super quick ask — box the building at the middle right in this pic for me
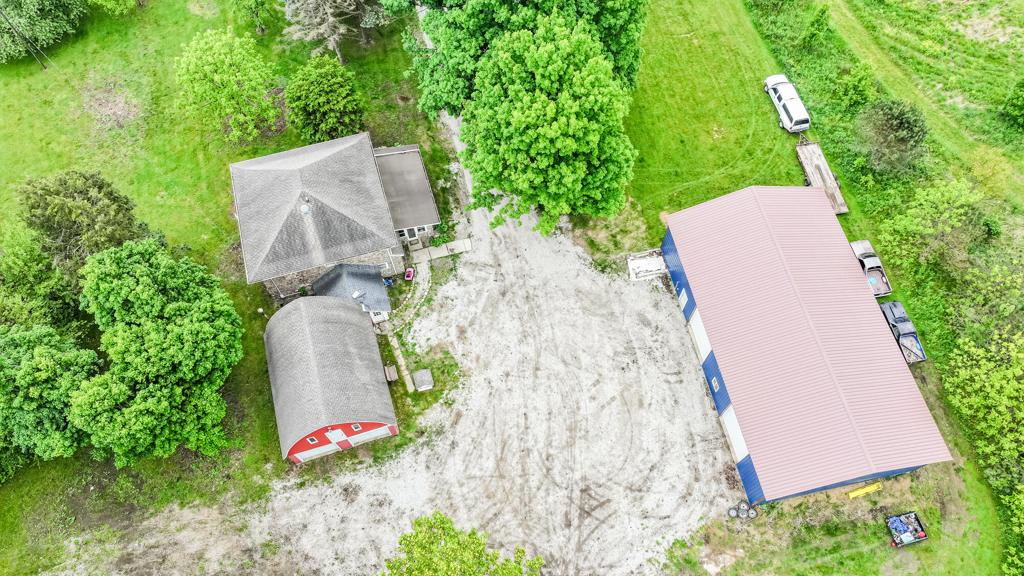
[661,186,952,505]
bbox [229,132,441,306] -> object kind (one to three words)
house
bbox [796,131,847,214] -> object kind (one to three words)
trailer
